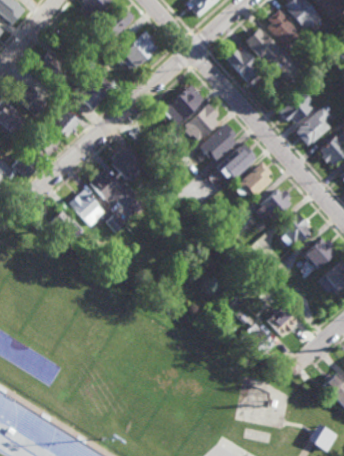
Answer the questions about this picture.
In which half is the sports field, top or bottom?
bottom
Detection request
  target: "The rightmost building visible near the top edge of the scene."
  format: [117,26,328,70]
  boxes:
[282,0,322,32]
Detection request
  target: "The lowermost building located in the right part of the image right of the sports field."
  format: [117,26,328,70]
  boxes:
[309,426,338,453]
